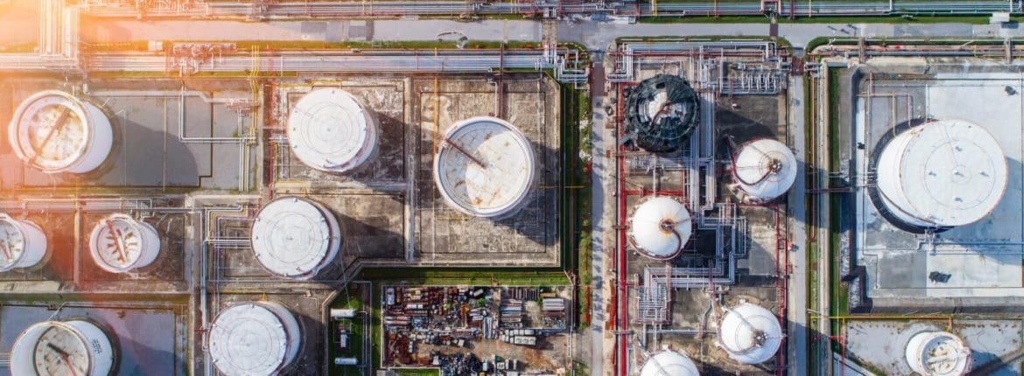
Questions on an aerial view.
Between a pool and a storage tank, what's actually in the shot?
storage tank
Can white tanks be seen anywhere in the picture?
Yes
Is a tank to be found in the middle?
Yes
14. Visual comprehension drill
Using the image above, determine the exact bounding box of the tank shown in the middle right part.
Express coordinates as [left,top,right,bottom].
[867,108,1009,238]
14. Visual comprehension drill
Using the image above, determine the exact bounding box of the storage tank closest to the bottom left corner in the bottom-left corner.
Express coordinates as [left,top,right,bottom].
[10,301,116,376]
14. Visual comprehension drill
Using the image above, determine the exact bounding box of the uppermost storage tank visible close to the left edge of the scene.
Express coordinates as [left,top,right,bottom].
[8,91,114,176]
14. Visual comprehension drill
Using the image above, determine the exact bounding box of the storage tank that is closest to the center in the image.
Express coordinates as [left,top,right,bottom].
[434,117,534,219]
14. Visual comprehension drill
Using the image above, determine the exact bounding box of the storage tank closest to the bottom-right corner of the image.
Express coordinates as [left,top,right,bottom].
[906,329,973,376]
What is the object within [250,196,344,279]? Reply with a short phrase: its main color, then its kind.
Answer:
white storage tank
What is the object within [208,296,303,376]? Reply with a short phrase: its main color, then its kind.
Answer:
white storage tank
